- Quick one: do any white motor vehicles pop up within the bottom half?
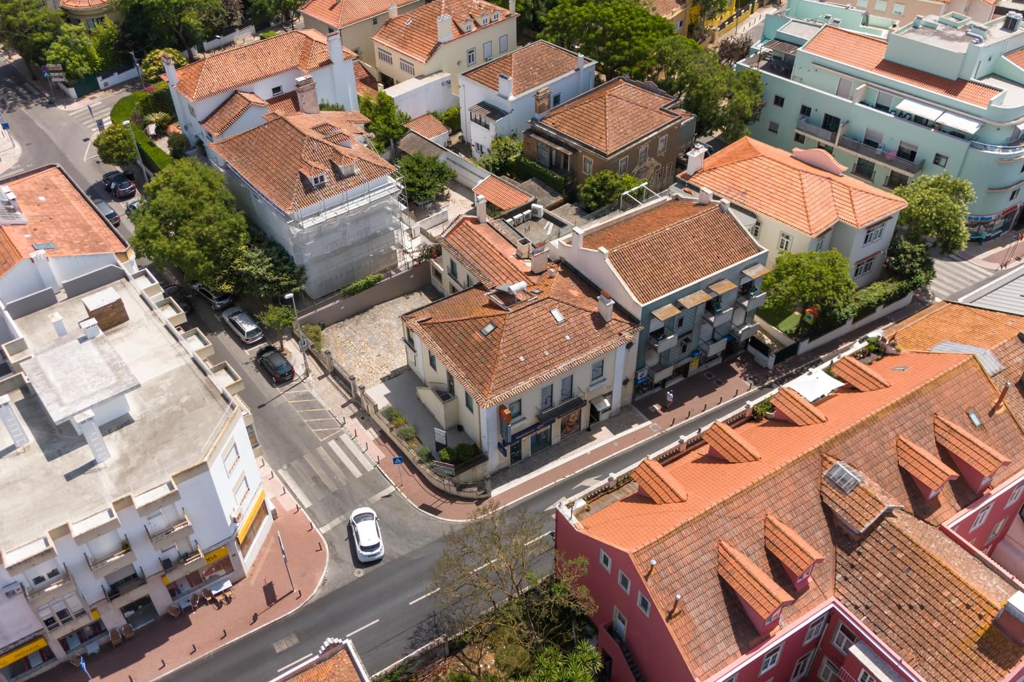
Yes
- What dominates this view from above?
buildings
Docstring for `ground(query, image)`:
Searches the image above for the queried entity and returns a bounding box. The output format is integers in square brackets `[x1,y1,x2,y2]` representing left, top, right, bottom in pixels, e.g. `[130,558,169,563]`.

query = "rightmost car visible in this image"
[348,507,382,563]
